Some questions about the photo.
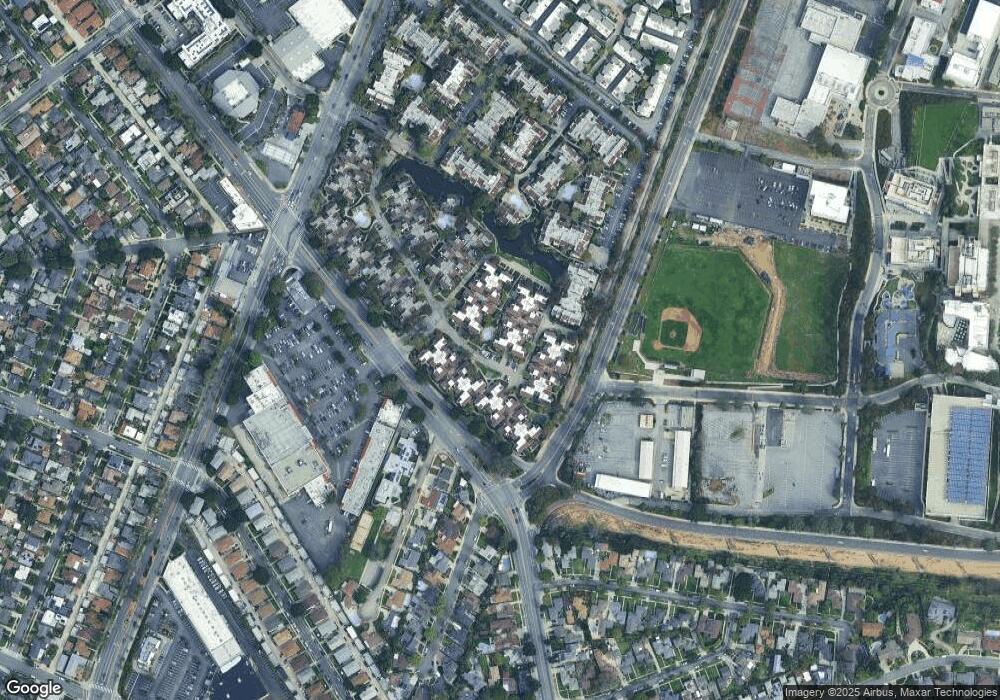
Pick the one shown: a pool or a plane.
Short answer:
pool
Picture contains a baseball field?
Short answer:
Yes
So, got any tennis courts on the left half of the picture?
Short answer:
No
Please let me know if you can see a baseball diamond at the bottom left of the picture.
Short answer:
No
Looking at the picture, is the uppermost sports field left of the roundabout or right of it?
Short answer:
to the right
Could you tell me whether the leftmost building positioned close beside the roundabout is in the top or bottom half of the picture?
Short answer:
top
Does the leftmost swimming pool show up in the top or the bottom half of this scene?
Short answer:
top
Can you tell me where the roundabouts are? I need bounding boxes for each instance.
[863,75,898,109]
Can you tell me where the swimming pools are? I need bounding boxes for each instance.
[401,70,427,94]
[558,180,577,201]
[478,324,496,345]
[436,211,457,230]
[507,188,531,216]
[352,207,373,231]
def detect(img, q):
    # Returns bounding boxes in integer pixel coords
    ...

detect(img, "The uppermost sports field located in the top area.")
[910,99,981,170]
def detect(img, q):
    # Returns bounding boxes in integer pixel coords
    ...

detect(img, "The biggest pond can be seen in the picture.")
[393,158,568,280]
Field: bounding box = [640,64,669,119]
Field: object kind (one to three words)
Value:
building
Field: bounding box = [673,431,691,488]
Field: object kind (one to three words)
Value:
shed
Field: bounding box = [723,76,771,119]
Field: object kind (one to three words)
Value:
tennis court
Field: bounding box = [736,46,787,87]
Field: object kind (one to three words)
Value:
tennis court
